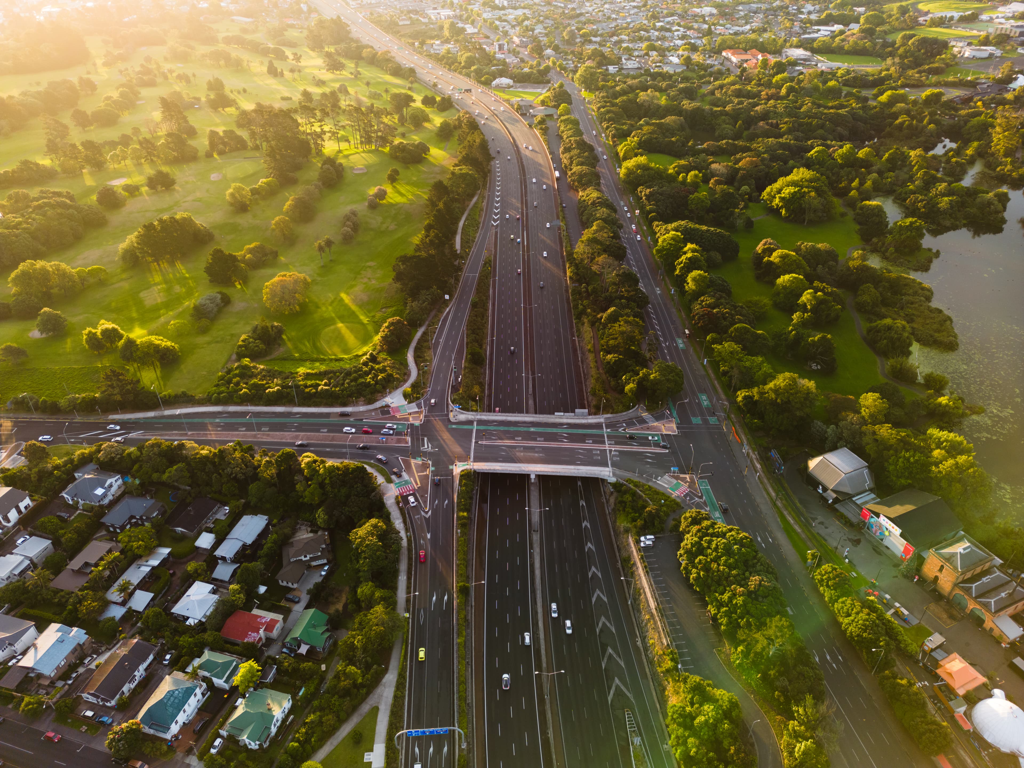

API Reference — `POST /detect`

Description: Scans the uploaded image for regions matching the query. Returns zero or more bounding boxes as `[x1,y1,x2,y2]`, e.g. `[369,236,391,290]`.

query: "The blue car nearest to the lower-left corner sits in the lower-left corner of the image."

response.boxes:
[94,713,113,725]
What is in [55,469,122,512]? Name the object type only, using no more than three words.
house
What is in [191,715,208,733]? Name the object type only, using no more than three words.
car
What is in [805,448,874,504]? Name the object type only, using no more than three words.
building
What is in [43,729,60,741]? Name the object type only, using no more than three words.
vehicle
